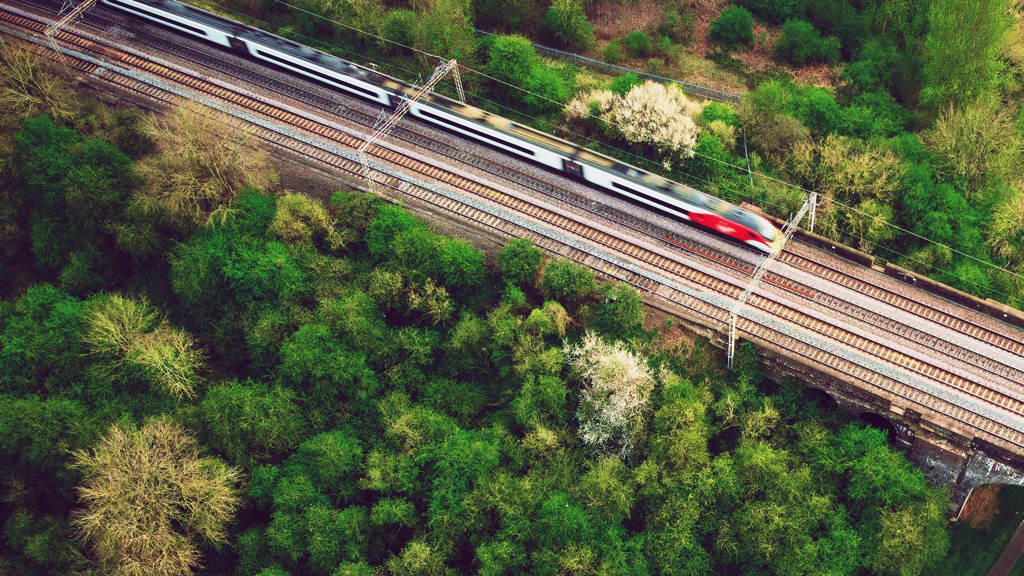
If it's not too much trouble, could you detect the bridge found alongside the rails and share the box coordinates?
[638,199,1024,523]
